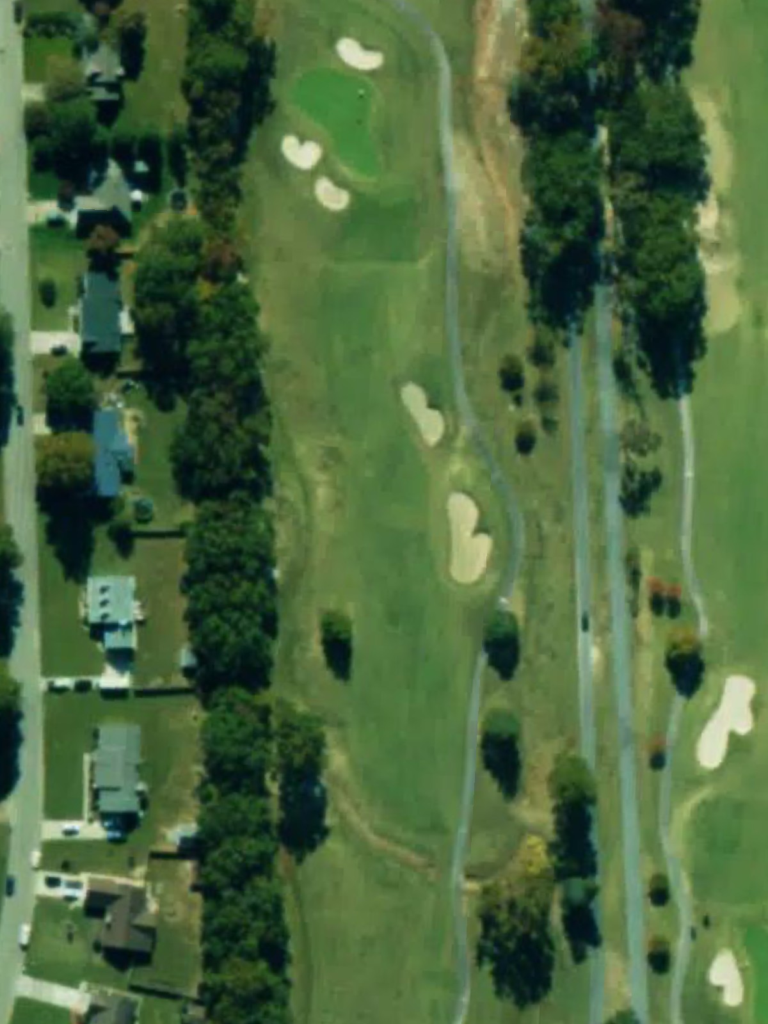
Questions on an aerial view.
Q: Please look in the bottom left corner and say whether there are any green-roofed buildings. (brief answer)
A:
Yes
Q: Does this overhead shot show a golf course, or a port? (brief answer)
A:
golf course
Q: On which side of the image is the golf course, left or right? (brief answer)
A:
right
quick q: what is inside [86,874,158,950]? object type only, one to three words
house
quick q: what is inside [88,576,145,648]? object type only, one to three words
house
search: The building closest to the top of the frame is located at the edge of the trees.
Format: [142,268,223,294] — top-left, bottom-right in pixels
[83,37,122,100]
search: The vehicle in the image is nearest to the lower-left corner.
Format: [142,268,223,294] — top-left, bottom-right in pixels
[18,923,30,948]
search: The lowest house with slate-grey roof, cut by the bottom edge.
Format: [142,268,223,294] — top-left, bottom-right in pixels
[86,990,144,1024]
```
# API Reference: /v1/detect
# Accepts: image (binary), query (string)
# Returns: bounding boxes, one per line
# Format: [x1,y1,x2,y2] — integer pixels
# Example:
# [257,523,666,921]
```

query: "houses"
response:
[94,410,133,495]
[86,990,144,1024]
[94,724,148,812]
[81,270,133,352]
[88,576,145,648]
[83,37,122,100]
[86,874,158,950]
[74,158,132,224]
